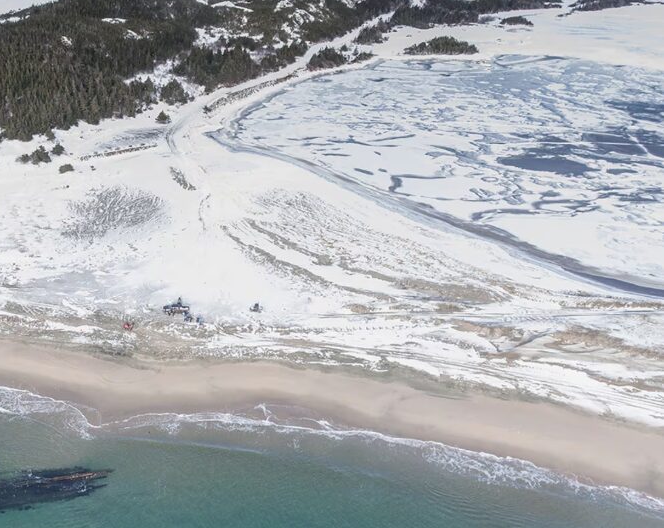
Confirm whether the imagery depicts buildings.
No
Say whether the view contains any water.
Yes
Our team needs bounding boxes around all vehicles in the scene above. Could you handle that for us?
[250,307,260,313]
[184,313,196,321]
[162,303,190,316]
[122,323,134,330]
